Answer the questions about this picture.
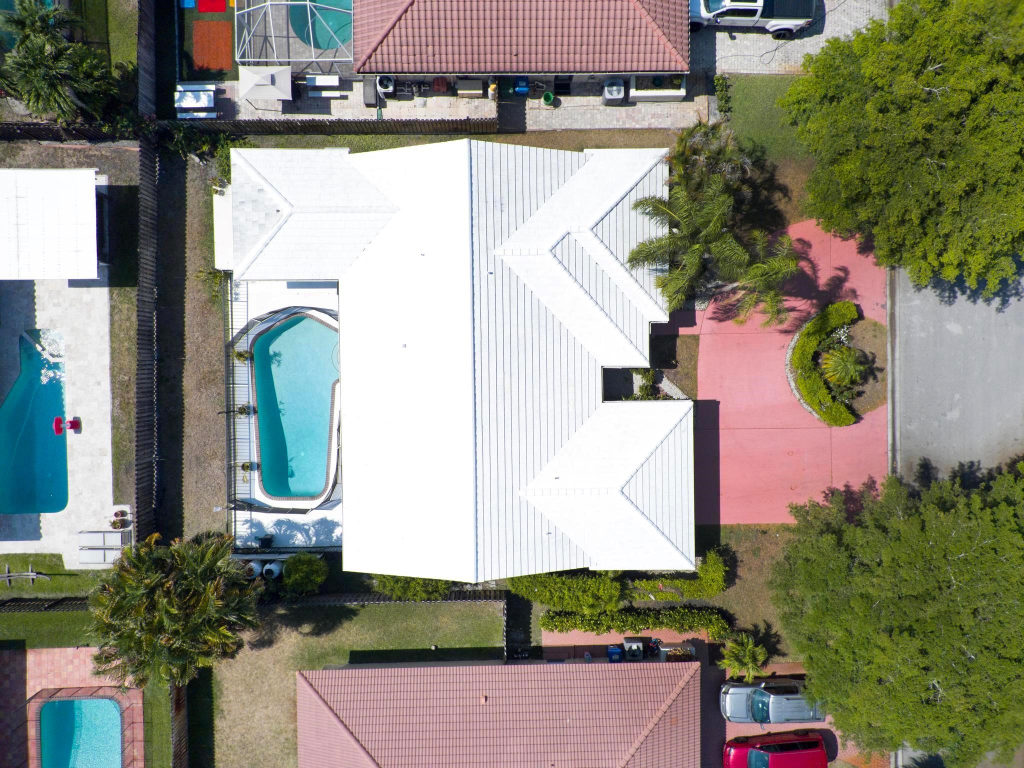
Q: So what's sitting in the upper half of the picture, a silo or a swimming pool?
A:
swimming pool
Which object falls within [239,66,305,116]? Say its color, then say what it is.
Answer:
white tent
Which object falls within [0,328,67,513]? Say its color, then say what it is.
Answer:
blue swimming pool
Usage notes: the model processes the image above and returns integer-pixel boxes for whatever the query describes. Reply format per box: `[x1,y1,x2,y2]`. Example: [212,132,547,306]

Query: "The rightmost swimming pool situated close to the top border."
[285,0,352,52]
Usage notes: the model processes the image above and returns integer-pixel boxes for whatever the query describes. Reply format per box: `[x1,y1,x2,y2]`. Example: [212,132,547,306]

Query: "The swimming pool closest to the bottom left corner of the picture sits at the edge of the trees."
[34,694,126,768]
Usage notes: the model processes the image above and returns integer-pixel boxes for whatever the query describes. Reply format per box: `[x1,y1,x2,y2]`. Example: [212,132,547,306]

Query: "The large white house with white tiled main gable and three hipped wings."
[227,137,698,584]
